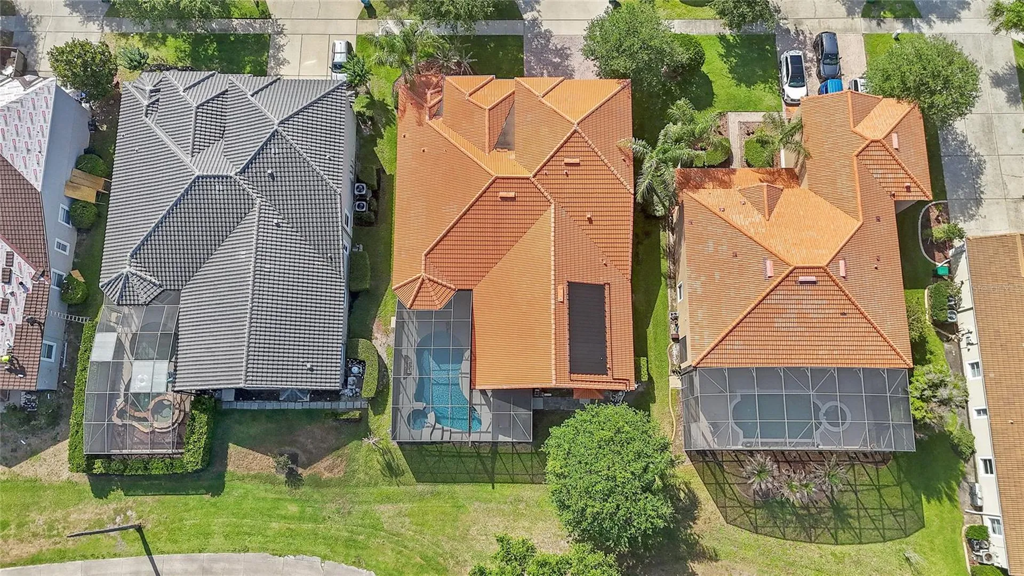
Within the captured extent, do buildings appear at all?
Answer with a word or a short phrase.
Yes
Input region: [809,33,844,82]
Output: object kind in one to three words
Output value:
car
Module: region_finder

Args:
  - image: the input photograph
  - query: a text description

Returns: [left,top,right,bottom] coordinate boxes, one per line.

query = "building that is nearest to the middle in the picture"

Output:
[391,74,635,397]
